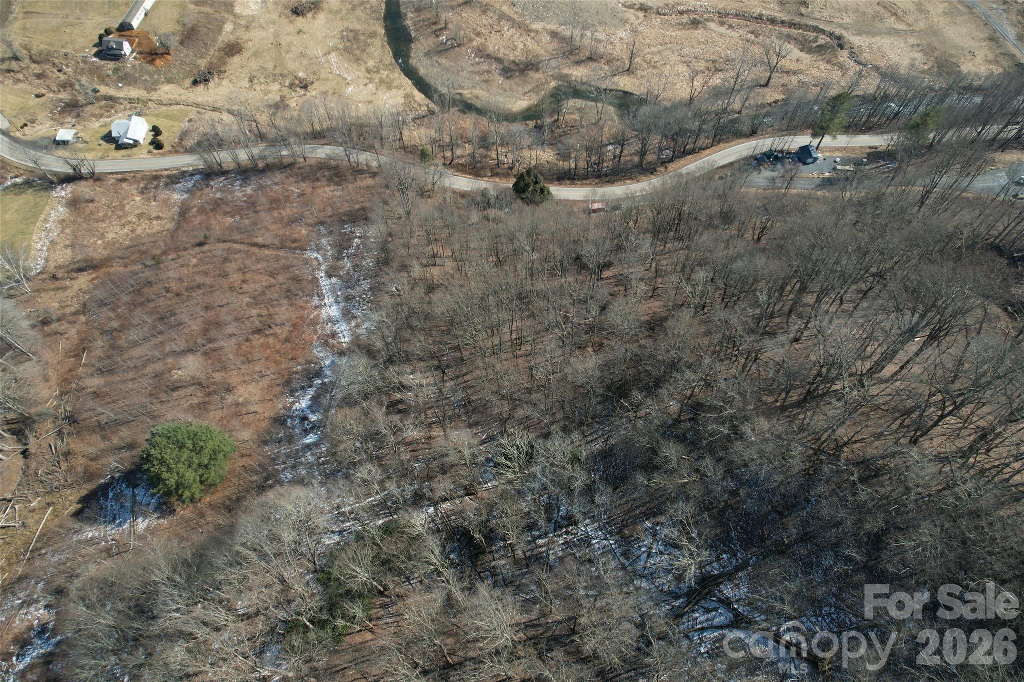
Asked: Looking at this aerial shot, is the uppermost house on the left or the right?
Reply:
left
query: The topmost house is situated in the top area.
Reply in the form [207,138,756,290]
[122,0,156,30]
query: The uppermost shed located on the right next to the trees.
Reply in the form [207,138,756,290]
[798,141,822,164]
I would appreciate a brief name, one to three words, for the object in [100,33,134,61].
house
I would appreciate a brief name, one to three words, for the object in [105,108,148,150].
house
